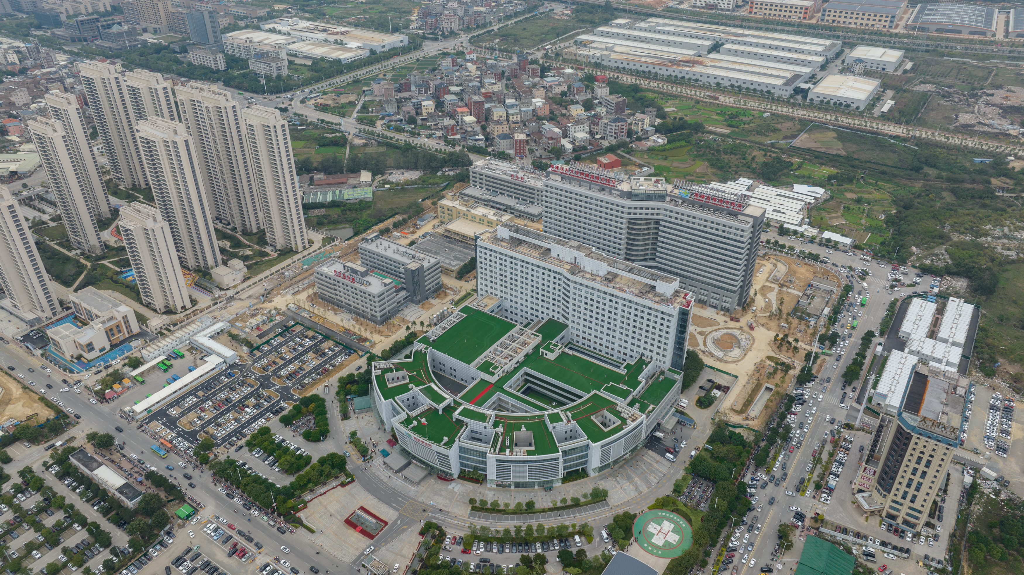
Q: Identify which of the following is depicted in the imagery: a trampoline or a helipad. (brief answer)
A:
helipad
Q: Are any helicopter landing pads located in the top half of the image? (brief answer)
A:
No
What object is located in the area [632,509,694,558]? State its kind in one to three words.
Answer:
helipad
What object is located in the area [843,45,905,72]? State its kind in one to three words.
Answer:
building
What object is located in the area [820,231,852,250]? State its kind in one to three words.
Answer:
building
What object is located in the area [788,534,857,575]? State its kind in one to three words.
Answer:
shed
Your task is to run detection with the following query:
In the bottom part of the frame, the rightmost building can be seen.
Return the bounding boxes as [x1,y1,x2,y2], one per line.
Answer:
[871,365,969,530]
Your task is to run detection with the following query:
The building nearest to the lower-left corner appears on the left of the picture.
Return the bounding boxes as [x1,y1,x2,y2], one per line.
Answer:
[69,449,142,509]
